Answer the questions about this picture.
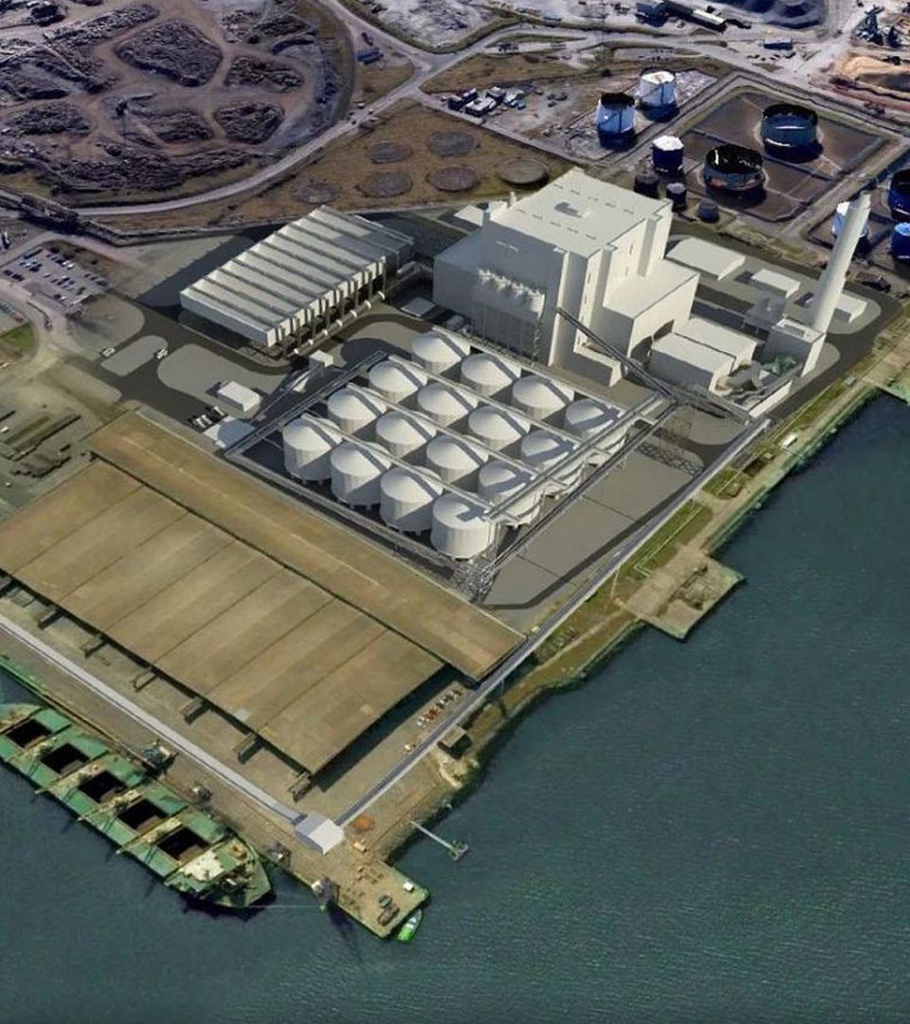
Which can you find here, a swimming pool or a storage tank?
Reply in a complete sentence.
I can see a storage tank in this picture.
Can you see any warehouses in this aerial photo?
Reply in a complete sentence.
Yes, the photo shows a warehouse.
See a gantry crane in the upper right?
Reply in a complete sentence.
No, no gantry crane can be made out in the upper right.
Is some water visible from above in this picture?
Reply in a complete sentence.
Yes, some water is visible.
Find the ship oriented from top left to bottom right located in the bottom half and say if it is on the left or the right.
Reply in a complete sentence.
The ship oriented from top left to bottom right located in the bottom half is on the left side of the image.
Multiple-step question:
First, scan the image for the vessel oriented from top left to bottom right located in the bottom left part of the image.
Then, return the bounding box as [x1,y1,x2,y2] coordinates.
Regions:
[0,700,271,915]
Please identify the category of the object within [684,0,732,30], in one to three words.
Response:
building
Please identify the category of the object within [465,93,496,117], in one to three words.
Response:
building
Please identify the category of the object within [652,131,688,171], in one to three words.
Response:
storage tank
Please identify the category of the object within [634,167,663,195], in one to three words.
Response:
storage tank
